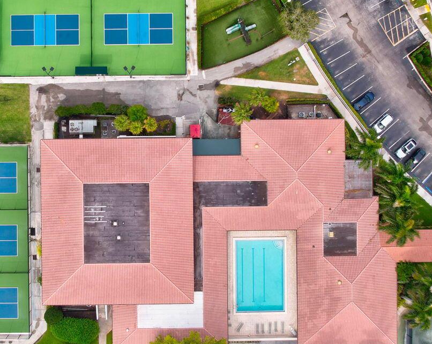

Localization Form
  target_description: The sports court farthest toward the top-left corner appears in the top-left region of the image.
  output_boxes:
[0,0,91,76]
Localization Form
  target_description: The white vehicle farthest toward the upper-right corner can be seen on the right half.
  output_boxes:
[373,111,396,135]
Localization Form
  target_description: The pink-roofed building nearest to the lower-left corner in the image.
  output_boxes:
[40,137,194,306]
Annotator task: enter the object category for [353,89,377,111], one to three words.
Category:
car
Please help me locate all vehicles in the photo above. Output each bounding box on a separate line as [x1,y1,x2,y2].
[406,147,430,170]
[373,111,396,135]
[353,89,377,111]
[394,136,419,160]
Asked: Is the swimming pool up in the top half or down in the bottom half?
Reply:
bottom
